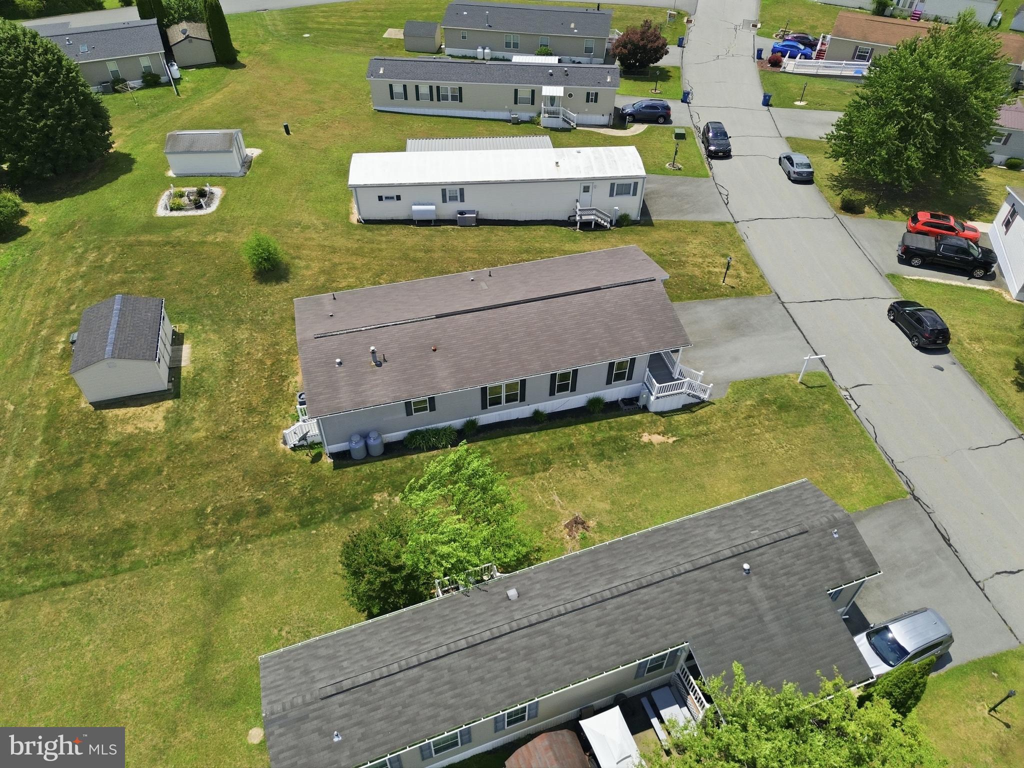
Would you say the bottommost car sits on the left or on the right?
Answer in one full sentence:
The bottommost car is on the right side of the image.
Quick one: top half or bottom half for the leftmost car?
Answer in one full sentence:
The leftmost car sits in the top half of the picture.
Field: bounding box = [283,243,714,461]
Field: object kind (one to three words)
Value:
house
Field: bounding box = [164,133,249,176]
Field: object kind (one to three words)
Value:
shed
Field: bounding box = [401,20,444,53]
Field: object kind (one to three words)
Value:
shed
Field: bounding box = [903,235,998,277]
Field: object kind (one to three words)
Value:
truck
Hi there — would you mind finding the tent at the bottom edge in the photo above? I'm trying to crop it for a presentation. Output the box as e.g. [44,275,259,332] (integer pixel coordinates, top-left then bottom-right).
[579,706,646,768]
